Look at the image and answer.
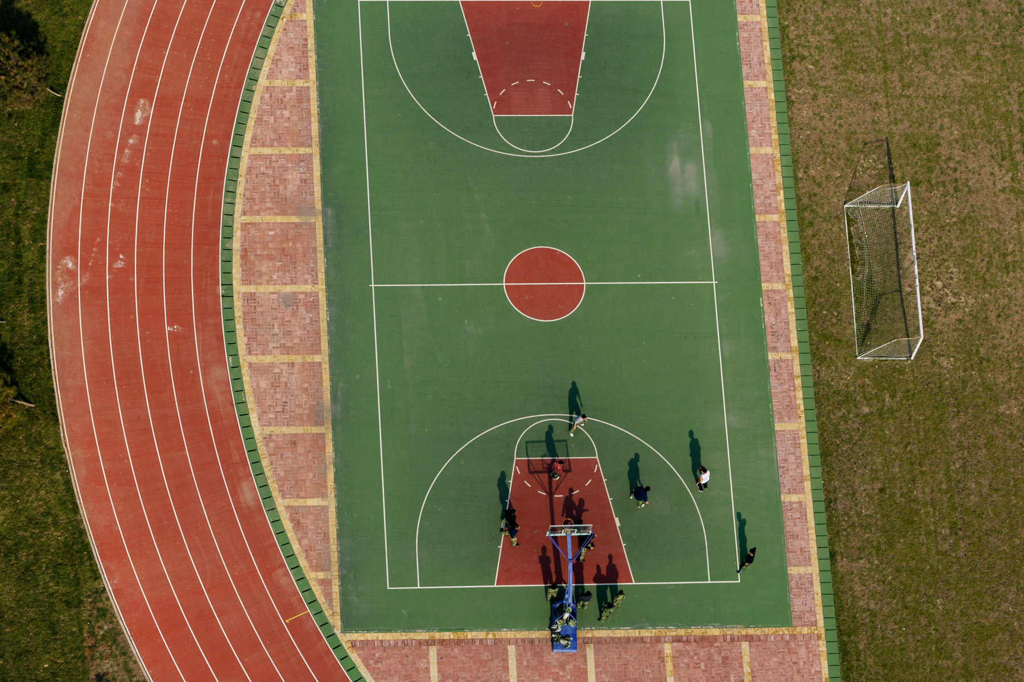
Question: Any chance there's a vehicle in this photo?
No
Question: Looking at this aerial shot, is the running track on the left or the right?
left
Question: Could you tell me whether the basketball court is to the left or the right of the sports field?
on its left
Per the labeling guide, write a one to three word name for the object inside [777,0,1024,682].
sports field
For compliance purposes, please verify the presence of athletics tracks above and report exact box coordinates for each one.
[49,0,352,682]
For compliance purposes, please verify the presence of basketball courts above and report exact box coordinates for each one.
[313,0,792,632]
